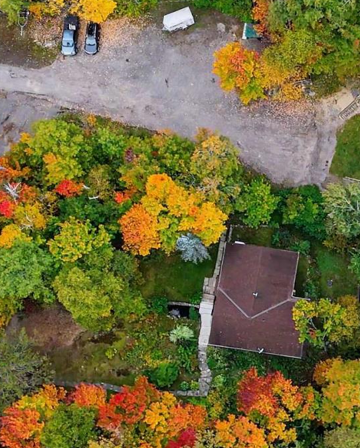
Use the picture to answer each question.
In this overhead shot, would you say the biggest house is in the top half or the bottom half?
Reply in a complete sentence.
The biggest house is in the bottom half of the image.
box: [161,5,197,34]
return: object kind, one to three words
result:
trailer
